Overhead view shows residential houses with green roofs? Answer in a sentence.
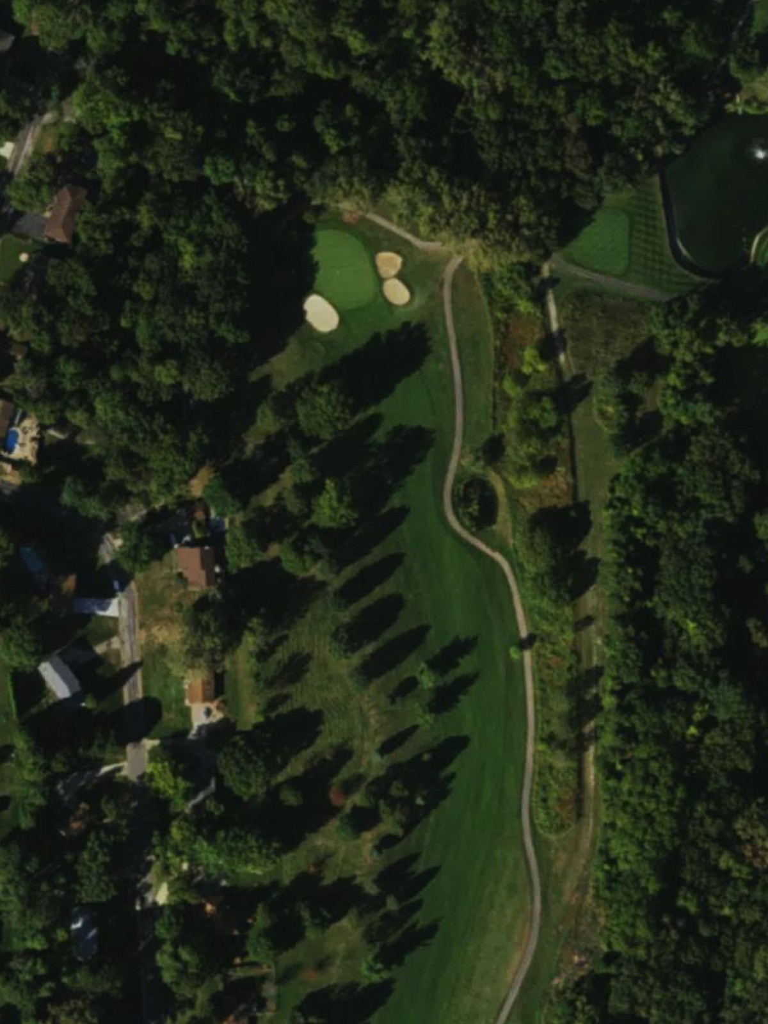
No, I can't see a single residential house with a green roof in this photo.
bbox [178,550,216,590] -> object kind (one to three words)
house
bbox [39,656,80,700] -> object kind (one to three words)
house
